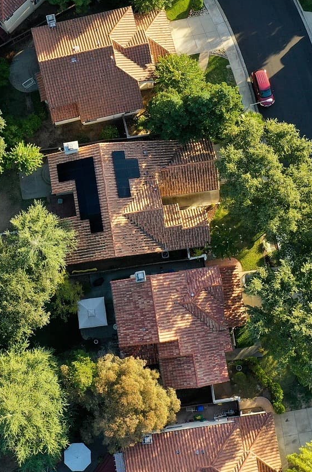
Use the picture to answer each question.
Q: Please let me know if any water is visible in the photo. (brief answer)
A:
No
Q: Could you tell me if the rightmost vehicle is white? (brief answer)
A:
No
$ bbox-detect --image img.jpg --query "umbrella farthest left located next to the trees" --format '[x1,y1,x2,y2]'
[64,443,91,471]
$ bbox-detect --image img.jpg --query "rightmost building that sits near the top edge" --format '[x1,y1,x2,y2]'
[33,7,176,131]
